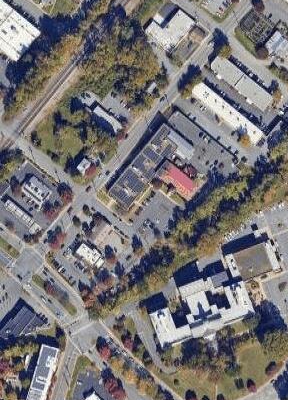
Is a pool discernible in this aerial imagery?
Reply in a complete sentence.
No, no pool is visible in the scene.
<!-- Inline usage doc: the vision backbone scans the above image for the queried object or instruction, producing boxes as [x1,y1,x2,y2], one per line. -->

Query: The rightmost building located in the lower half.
[226,241,281,282]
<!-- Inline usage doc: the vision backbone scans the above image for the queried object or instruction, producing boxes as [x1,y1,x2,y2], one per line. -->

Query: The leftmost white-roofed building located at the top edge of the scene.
[0,1,40,63]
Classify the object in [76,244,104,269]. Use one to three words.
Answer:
building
